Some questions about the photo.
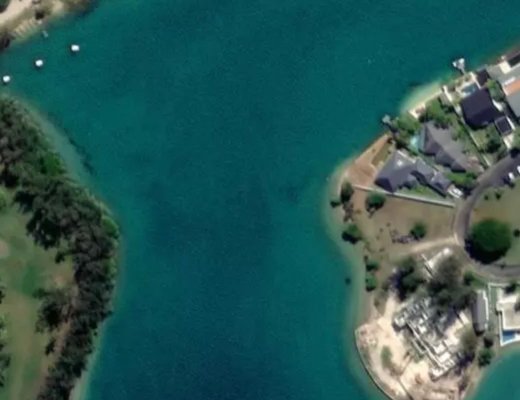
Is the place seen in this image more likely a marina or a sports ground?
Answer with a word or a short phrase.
marina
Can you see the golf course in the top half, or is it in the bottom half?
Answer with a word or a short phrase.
bottom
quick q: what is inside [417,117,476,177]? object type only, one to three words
house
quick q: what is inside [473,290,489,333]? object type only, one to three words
shed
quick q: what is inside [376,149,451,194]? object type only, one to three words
house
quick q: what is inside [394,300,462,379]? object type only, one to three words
building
